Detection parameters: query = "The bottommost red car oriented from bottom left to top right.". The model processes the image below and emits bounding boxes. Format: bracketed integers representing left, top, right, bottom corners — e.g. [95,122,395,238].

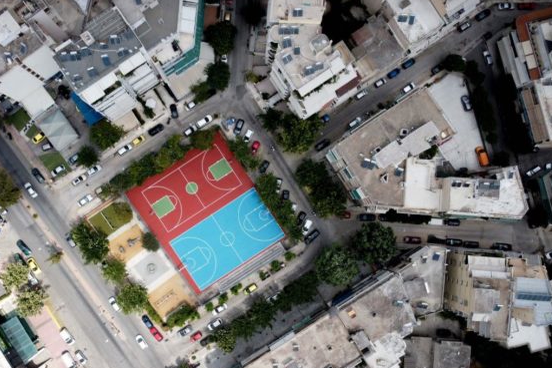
[188,330,203,343]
